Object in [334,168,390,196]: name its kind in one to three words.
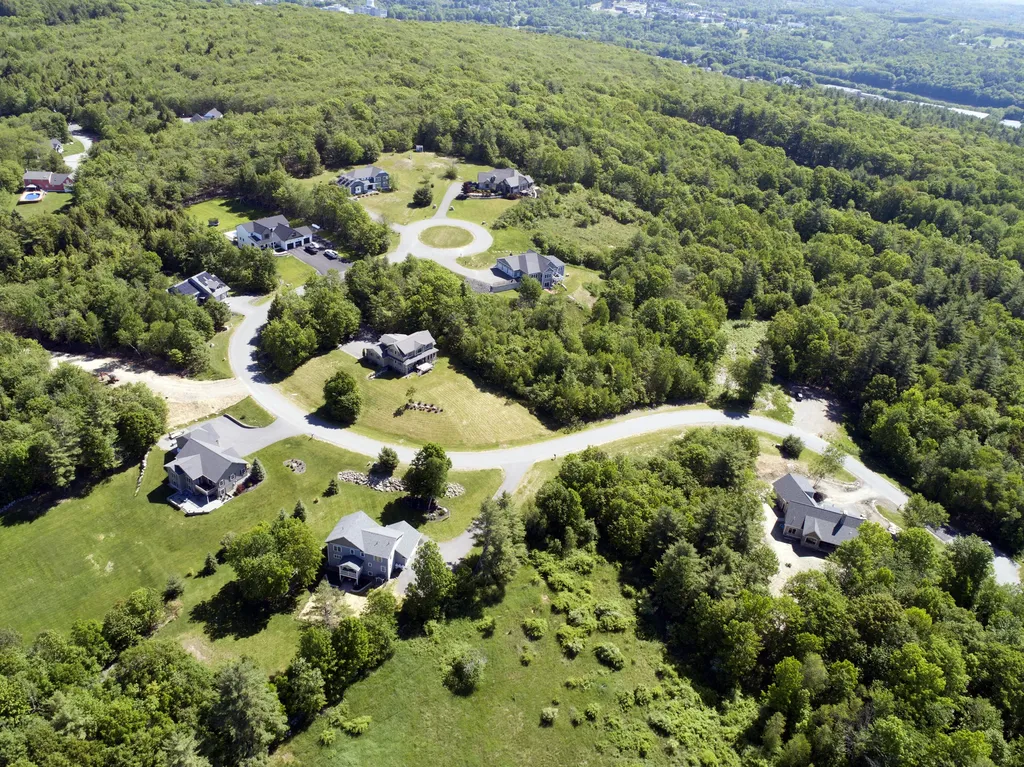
house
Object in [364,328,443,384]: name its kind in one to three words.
house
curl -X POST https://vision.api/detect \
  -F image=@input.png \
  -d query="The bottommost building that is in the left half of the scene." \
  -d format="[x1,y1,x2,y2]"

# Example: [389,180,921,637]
[322,510,436,595]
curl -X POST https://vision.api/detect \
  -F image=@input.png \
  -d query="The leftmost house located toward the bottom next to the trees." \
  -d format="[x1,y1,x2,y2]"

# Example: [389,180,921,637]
[163,425,257,524]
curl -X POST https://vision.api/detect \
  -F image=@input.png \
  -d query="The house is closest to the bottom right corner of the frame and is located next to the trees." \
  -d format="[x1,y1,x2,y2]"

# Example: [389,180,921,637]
[768,472,870,572]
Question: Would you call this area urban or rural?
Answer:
rural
